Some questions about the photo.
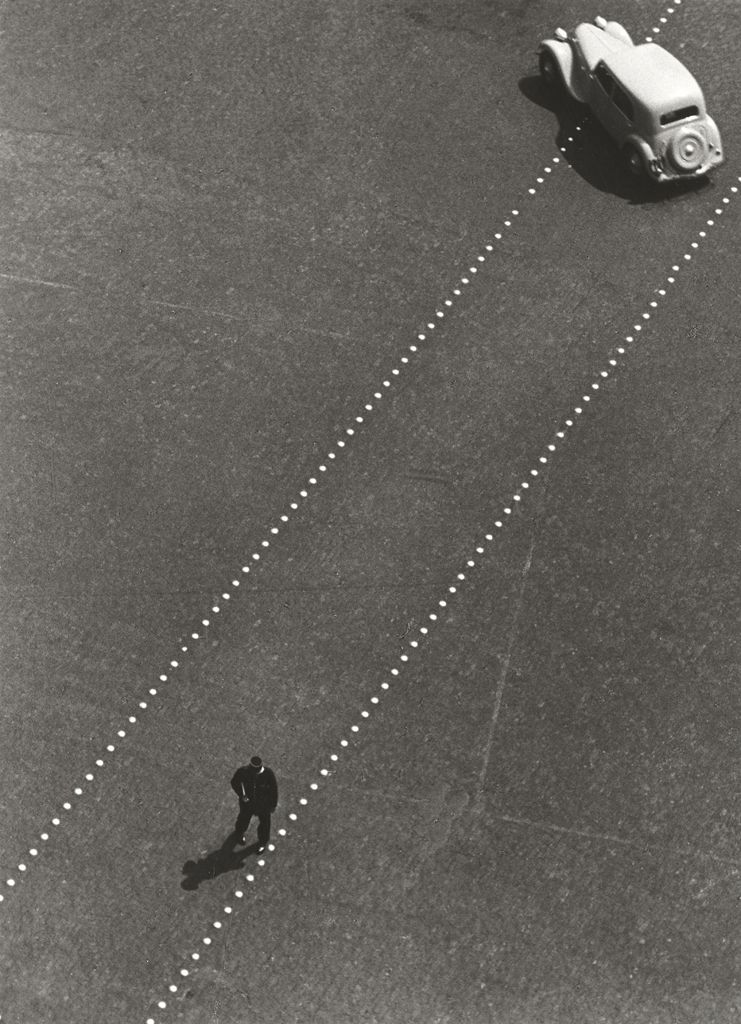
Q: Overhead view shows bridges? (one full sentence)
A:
No, the picture doesn't show any bridge.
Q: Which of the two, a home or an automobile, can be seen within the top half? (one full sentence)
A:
What appears within the top half is an automobile.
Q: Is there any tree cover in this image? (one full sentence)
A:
No, no tree cover is visible.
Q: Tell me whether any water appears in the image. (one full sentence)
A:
No, the picture contains no water.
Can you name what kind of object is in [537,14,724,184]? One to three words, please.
car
